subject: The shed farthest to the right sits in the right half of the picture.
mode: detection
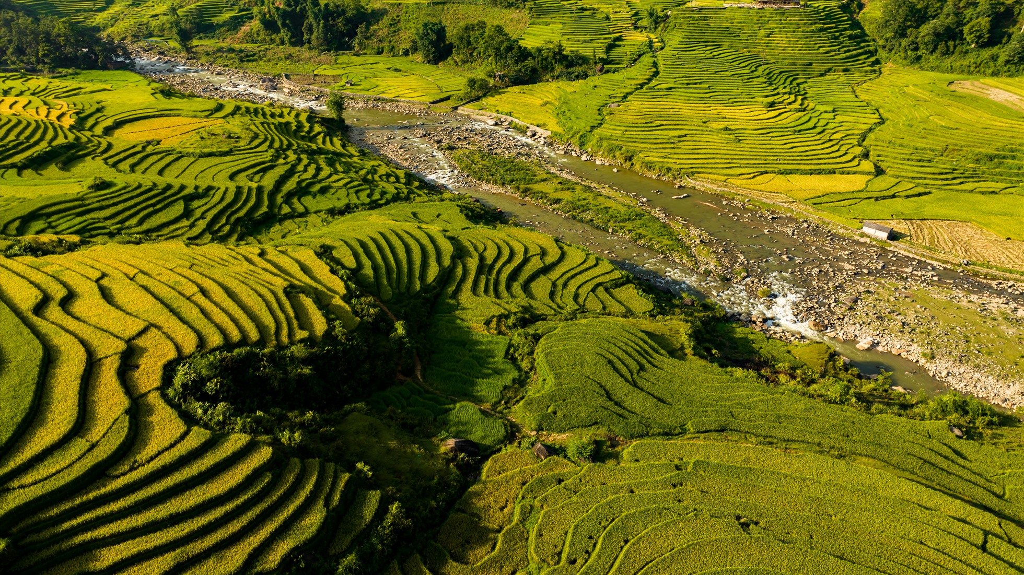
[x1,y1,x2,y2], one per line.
[862,217,897,242]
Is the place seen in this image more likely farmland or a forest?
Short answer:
farmland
